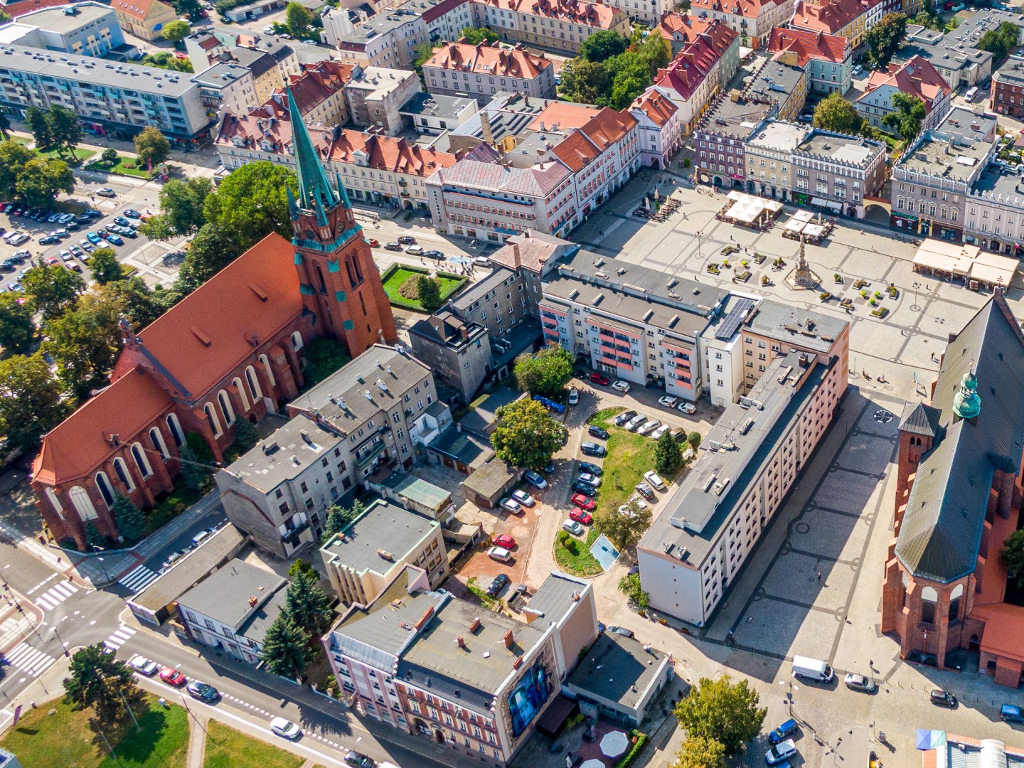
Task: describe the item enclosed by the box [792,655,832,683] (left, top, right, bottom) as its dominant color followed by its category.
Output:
white van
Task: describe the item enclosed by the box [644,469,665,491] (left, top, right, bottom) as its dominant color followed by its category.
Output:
white car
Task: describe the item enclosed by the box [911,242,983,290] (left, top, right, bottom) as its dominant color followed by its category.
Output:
white tent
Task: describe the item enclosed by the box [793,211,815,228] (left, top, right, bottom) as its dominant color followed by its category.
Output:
white umbrella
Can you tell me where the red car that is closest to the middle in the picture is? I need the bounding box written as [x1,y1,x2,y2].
[587,372,609,385]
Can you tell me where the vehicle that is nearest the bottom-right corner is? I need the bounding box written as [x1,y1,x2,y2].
[997,702,1024,724]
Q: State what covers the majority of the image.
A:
buildings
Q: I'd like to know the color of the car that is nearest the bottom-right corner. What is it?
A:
blue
